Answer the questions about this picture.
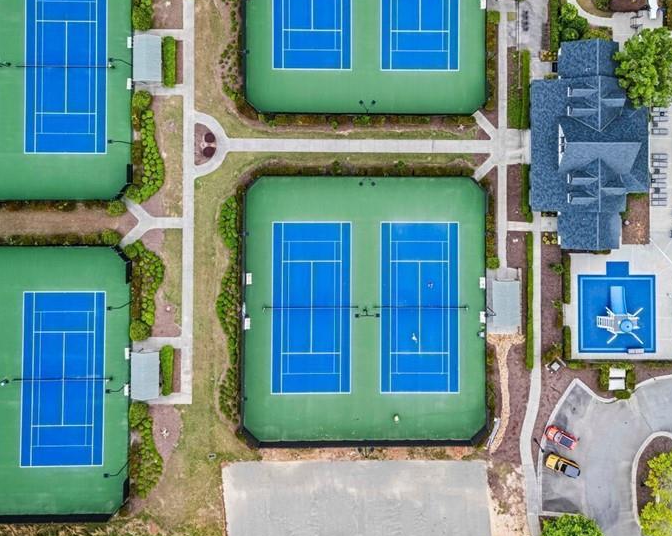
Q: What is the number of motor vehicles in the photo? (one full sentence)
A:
There are 2 motor vehicles in the image.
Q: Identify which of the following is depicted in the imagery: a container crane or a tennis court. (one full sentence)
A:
I can see a tennis court in this picture.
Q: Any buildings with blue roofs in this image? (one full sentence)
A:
Yes, the image includes a building with a blue roof.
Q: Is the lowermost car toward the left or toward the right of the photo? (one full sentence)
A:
It is on the right.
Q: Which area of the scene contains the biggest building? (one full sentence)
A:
The biggest building is located in the top right region of the scene.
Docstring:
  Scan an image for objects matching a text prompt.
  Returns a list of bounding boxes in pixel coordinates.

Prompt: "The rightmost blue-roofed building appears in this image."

[529,37,648,251]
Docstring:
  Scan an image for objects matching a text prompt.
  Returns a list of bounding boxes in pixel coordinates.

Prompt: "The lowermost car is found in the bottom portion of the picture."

[546,453,581,481]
